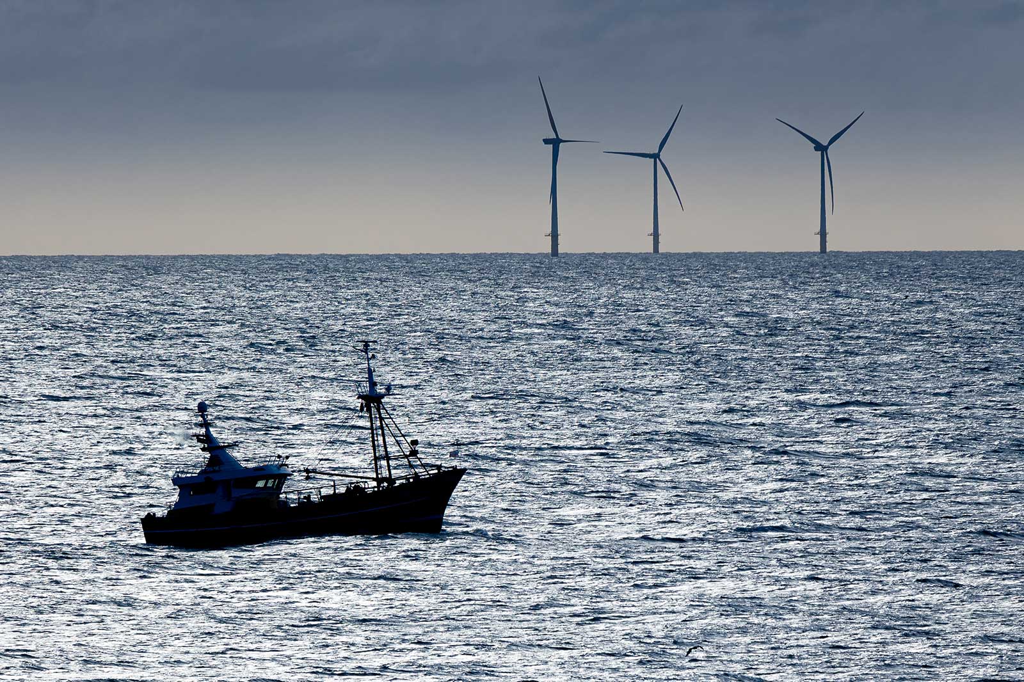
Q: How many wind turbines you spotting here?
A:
3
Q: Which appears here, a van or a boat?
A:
boat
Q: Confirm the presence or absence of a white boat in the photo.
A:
No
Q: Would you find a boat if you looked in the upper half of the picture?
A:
No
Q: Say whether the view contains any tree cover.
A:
No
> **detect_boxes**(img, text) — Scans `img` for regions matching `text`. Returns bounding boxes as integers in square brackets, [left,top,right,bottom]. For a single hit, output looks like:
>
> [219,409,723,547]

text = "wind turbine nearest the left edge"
[538,75,598,256]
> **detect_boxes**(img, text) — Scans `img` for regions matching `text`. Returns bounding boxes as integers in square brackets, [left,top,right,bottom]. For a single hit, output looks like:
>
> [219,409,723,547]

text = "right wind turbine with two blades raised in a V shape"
[776,111,864,253]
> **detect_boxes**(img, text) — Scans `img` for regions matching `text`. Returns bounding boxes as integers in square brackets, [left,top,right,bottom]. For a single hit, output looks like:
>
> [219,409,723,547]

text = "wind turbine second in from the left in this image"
[604,105,685,253]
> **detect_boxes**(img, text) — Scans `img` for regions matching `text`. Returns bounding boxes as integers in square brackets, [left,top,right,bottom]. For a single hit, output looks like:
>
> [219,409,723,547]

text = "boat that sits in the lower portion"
[141,341,467,542]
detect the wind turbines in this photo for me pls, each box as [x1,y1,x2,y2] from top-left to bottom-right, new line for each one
[604,105,685,253]
[776,111,864,253]
[538,75,598,256]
